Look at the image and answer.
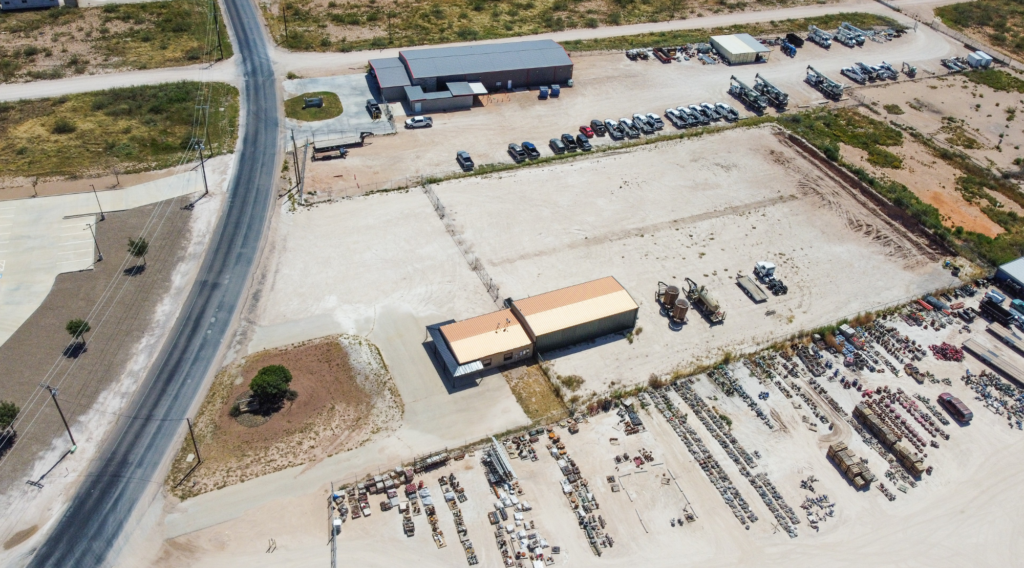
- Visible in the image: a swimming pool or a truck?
truck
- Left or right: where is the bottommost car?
right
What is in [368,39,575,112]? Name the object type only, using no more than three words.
building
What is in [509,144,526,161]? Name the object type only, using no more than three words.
vehicle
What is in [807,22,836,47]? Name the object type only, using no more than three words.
truck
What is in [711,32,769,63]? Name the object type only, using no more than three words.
shed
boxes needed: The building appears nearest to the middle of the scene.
[427,275,640,388]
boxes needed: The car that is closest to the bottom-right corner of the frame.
[938,395,973,425]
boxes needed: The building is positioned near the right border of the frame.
[992,262,1024,299]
